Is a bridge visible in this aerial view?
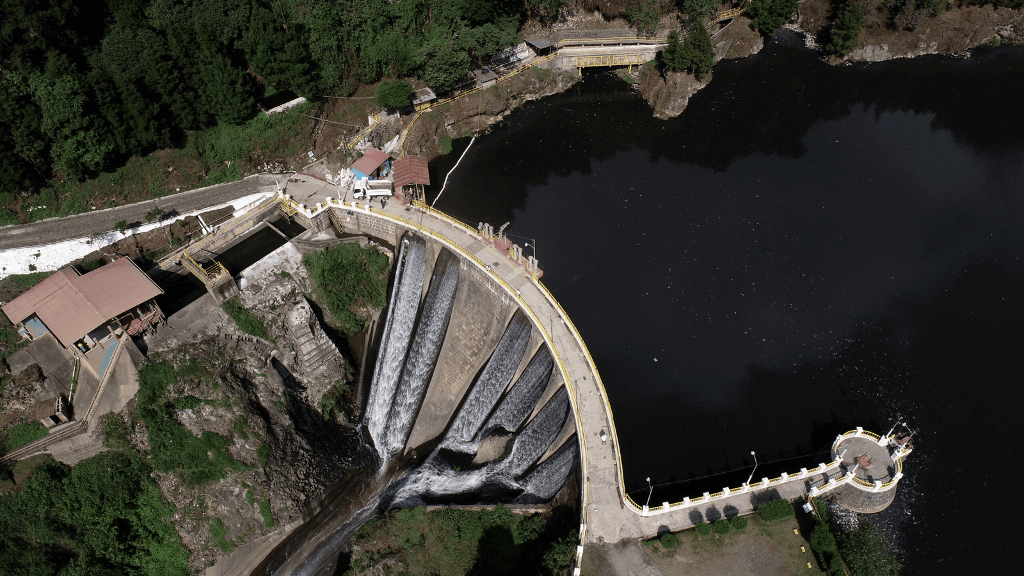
Yes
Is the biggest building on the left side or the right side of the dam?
to its left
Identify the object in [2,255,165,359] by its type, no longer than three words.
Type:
building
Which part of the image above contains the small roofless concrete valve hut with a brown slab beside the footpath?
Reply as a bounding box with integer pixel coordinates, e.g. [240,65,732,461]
[32,402,70,428]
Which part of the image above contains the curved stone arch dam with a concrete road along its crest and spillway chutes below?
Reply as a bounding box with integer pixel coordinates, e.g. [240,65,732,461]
[329,205,641,576]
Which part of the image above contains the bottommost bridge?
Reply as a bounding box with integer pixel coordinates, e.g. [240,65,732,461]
[181,252,242,319]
